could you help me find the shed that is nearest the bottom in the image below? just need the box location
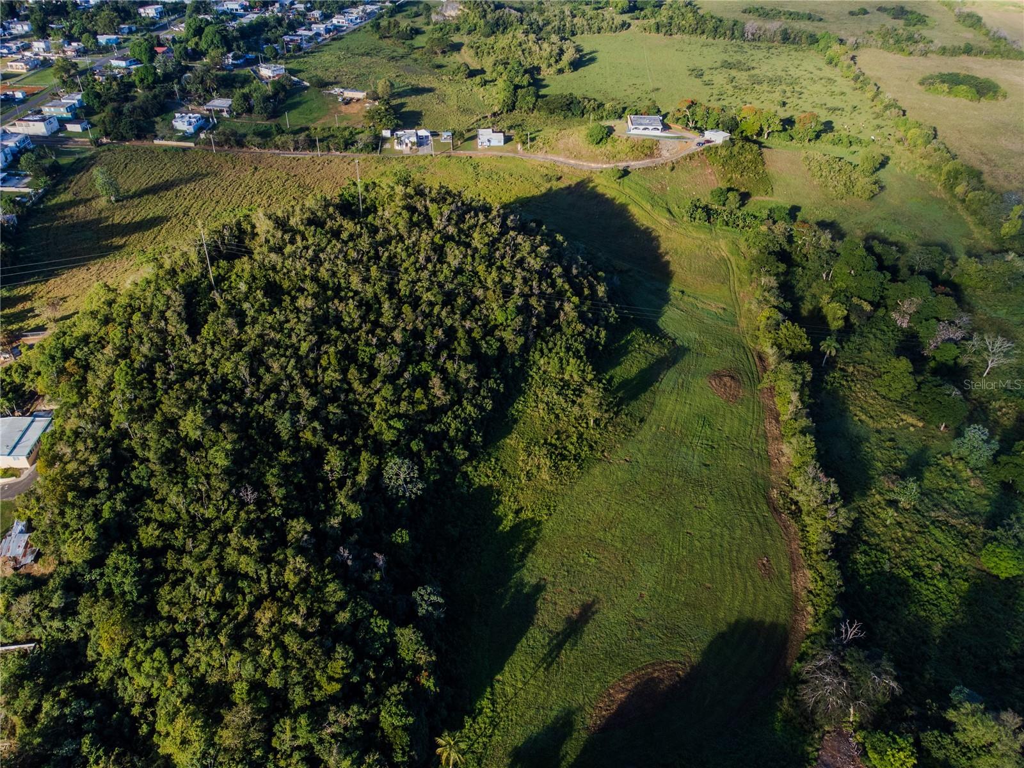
[0,516,34,569]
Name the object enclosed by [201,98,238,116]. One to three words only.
house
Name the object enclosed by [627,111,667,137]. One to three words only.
house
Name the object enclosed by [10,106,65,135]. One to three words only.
building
